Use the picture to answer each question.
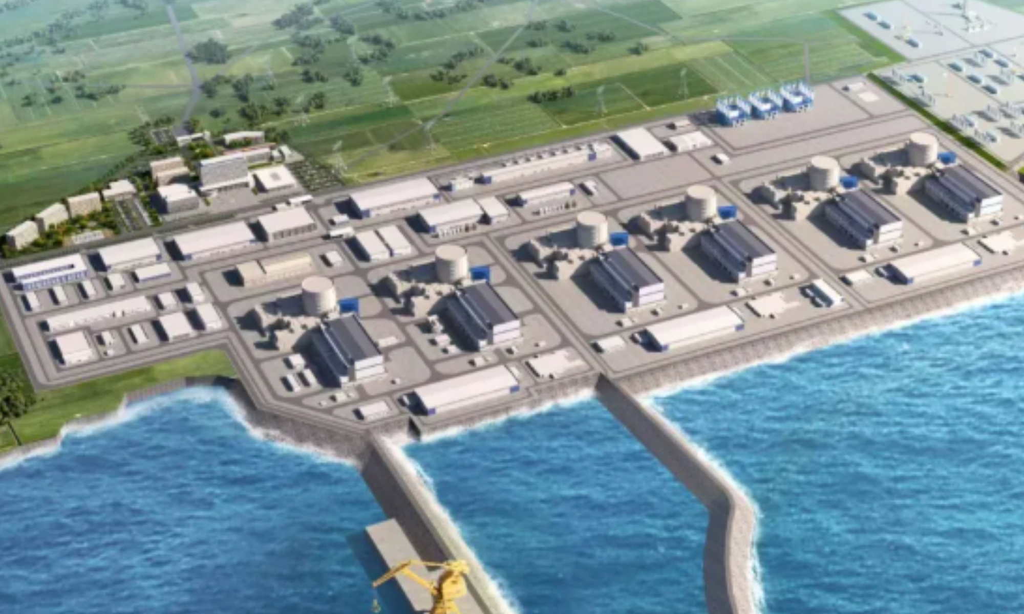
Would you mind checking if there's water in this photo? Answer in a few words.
Yes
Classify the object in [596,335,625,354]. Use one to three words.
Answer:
shed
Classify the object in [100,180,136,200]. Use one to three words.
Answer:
house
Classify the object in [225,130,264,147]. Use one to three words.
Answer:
building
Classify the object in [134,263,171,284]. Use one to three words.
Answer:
building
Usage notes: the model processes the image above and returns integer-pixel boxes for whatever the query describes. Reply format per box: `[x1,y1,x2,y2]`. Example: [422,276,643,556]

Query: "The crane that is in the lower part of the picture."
[372,558,469,614]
